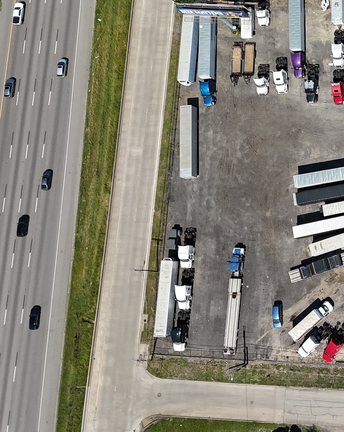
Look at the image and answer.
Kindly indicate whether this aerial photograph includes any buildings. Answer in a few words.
No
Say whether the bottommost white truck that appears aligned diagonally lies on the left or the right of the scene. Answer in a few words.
right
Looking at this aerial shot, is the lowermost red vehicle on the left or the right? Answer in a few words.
right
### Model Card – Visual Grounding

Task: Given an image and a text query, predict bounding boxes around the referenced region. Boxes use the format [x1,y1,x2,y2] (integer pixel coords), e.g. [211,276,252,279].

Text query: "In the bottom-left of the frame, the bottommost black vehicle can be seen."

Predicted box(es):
[28,306,41,329]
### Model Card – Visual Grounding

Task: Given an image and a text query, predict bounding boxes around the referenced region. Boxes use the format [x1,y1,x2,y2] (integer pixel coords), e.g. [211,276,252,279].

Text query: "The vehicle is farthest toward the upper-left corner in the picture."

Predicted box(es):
[12,3,25,26]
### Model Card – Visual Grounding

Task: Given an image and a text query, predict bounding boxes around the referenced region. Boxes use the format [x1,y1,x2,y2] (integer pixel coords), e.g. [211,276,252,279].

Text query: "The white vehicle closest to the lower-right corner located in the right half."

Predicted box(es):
[298,322,331,357]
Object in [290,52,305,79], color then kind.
purple vehicle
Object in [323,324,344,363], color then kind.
red vehicle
